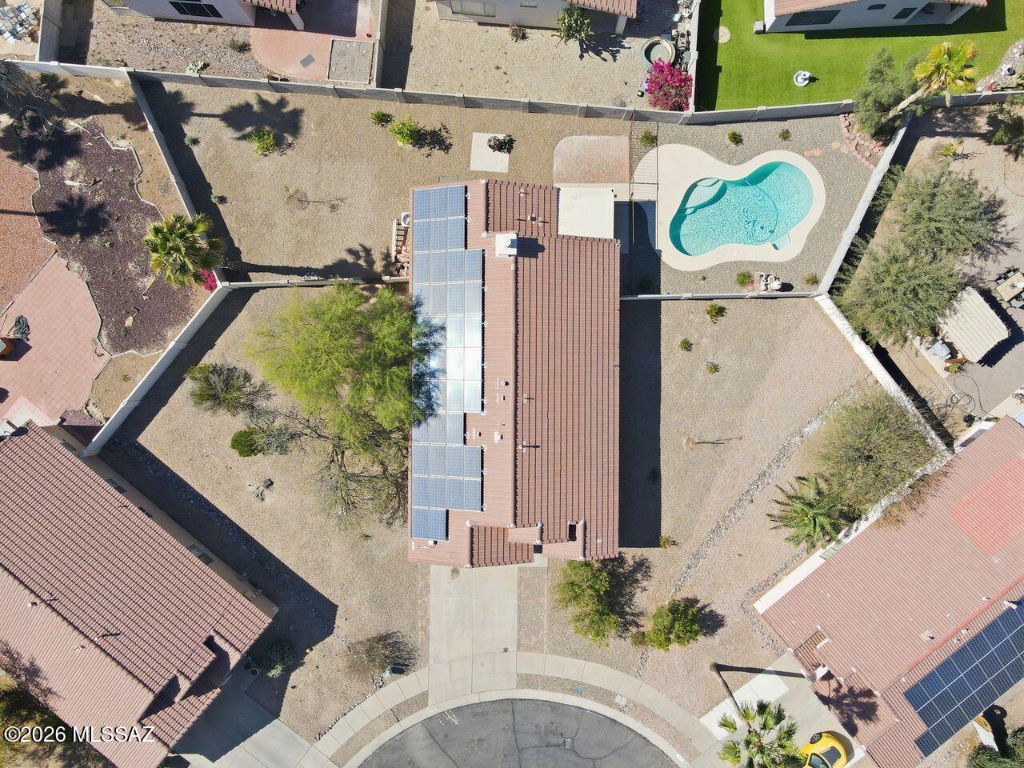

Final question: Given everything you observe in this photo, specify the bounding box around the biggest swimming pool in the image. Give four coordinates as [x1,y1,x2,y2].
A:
[665,157,819,259]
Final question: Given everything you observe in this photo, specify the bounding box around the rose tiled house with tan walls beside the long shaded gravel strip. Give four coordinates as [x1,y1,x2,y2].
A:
[0,430,280,768]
